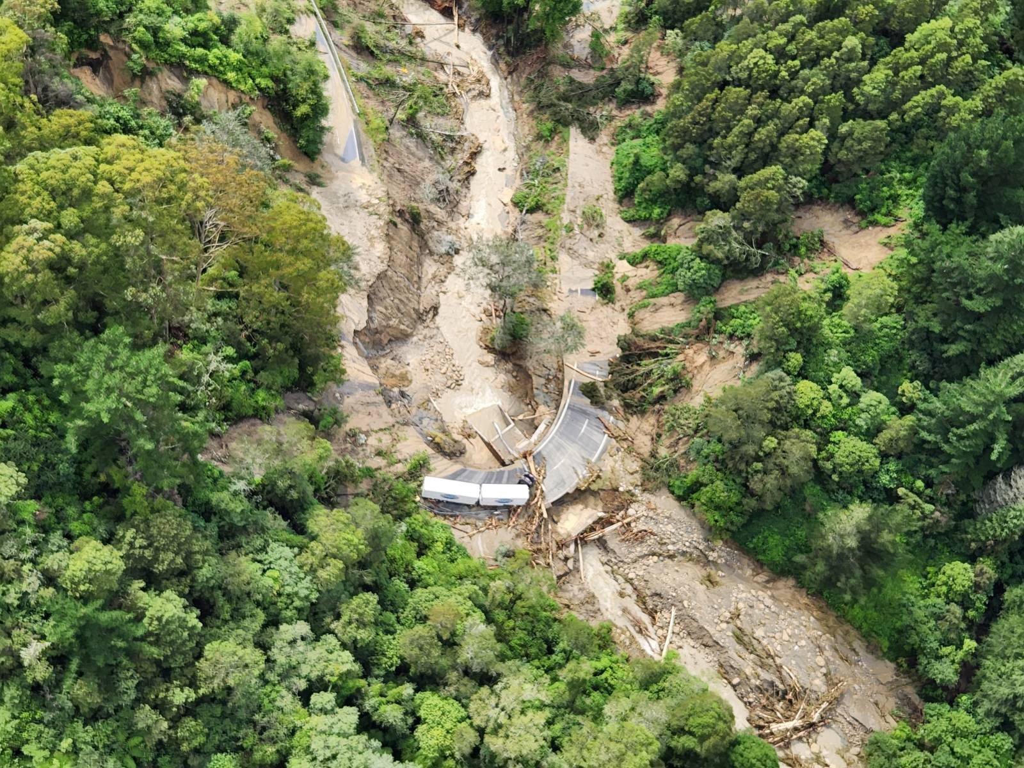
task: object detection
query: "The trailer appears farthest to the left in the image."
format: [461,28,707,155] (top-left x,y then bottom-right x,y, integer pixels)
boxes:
[422,477,481,508]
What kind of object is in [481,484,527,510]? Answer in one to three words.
trailer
